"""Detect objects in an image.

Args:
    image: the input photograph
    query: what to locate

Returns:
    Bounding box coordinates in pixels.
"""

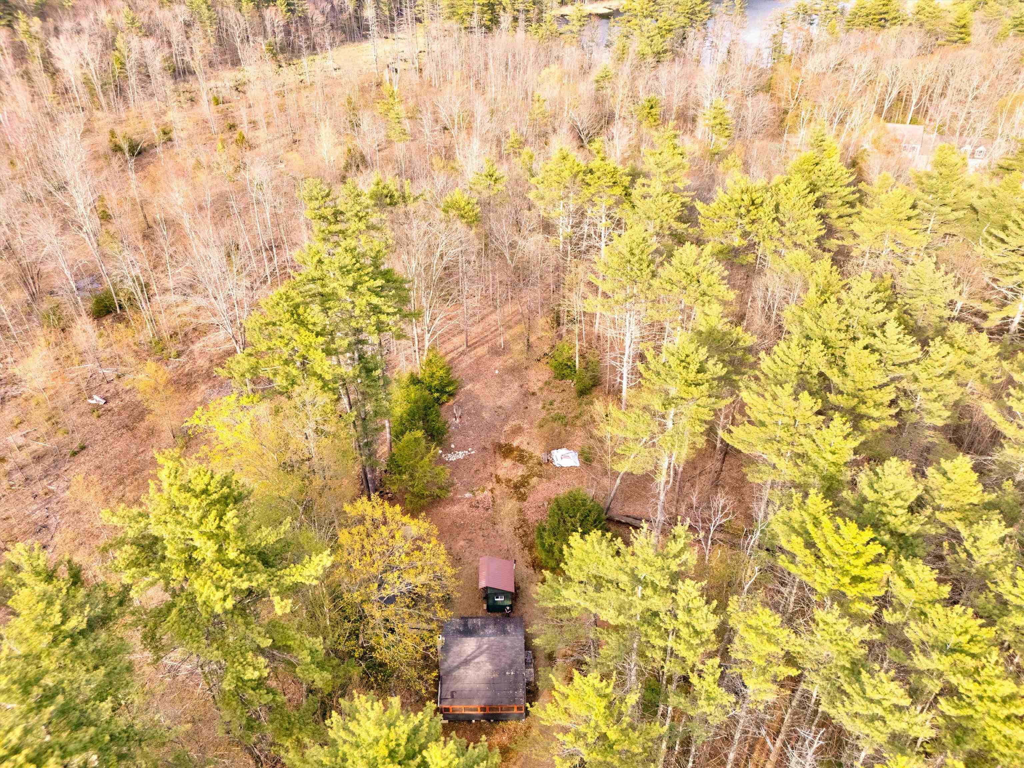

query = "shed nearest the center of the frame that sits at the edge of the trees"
[478,554,517,613]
